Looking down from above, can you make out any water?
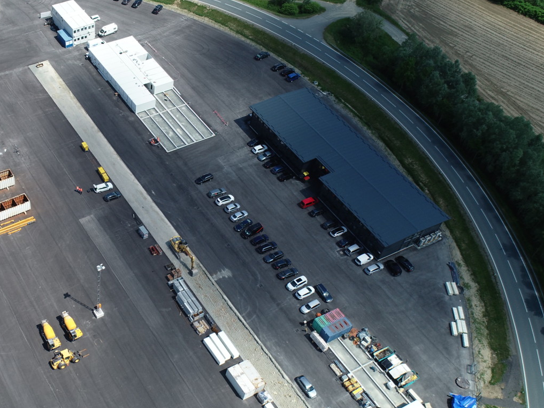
No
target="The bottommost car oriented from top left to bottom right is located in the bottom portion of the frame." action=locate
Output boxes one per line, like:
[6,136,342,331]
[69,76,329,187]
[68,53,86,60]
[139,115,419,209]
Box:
[293,374,319,398]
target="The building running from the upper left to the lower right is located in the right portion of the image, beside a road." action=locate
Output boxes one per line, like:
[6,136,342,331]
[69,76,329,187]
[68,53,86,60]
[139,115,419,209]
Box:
[244,89,450,260]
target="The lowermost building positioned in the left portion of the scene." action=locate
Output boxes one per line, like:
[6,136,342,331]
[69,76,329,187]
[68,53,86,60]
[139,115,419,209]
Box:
[87,36,174,113]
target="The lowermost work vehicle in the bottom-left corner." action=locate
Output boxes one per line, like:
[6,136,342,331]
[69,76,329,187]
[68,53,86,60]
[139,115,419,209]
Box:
[48,346,90,372]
